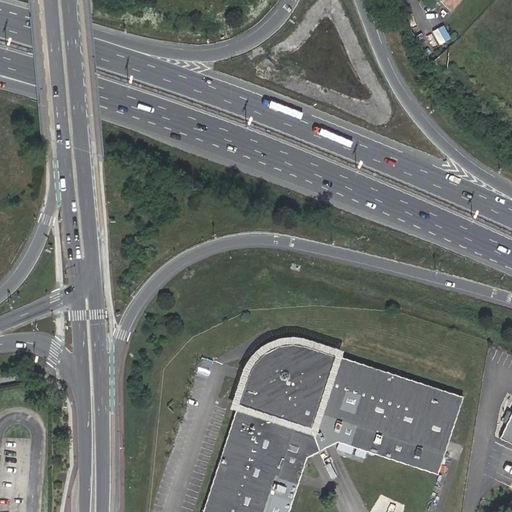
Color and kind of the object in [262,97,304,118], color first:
white truck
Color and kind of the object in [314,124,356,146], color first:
white truck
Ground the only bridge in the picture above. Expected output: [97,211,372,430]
[30,0,104,158]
